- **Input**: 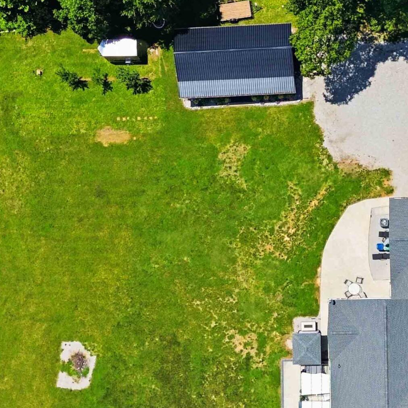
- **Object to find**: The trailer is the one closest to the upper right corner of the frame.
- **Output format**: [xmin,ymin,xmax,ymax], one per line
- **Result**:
[216,0,264,24]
